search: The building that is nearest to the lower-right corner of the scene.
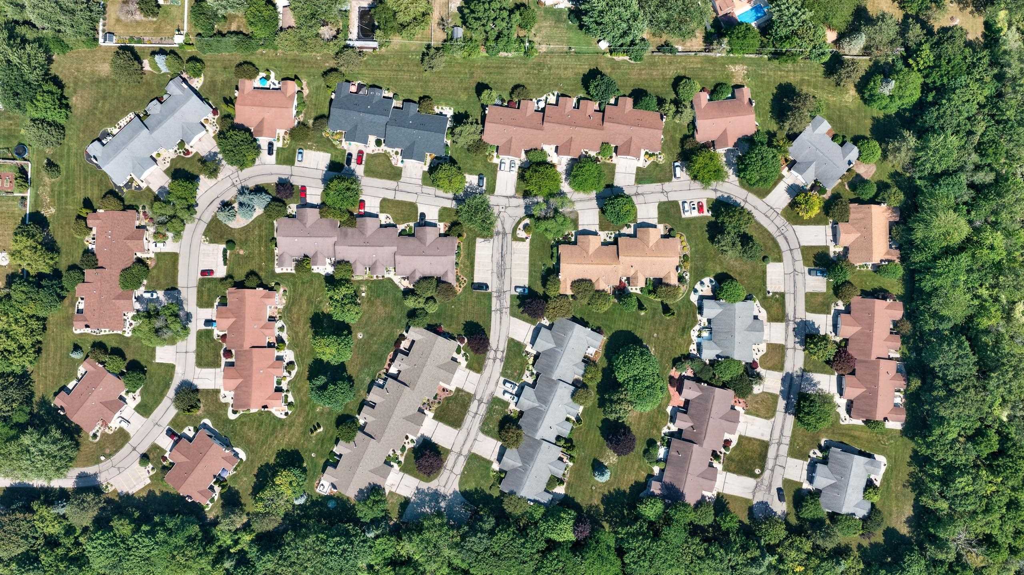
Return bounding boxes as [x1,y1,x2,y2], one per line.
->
[811,448,883,519]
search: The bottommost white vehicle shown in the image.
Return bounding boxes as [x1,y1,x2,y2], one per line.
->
[116,417,132,430]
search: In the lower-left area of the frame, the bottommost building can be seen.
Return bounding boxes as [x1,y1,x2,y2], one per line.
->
[165,429,240,506]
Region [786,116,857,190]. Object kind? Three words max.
house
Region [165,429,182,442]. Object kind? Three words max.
vehicle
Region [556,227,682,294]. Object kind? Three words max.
house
